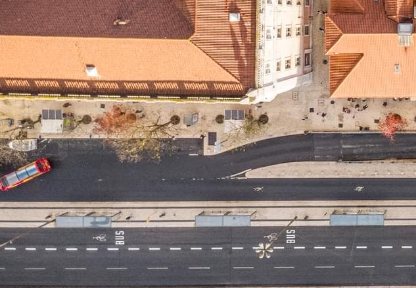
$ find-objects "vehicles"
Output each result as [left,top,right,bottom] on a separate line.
[0,156,51,193]
[3,140,34,153]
